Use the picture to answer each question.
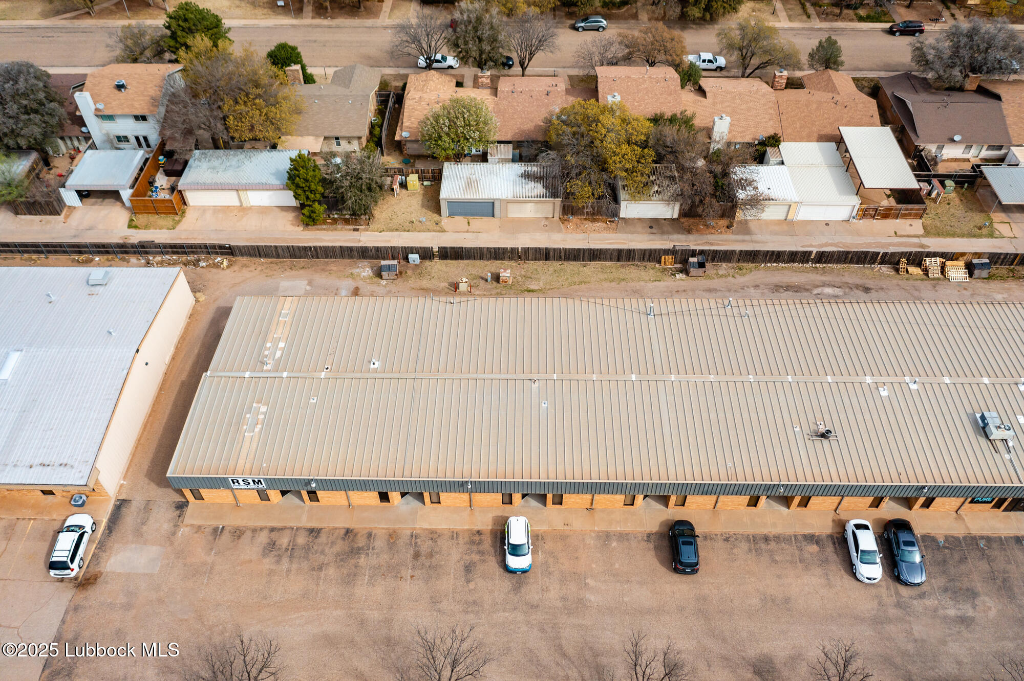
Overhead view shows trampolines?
No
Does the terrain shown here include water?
No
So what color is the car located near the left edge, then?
white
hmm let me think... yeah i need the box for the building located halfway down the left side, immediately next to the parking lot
[0,268,193,492]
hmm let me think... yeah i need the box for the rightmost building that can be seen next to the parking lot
[165,293,1024,513]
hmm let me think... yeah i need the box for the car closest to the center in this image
[504,515,533,573]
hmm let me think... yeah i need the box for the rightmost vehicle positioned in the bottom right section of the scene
[886,522,932,587]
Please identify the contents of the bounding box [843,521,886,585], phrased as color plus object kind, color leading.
white car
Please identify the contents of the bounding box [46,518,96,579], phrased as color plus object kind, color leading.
white car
